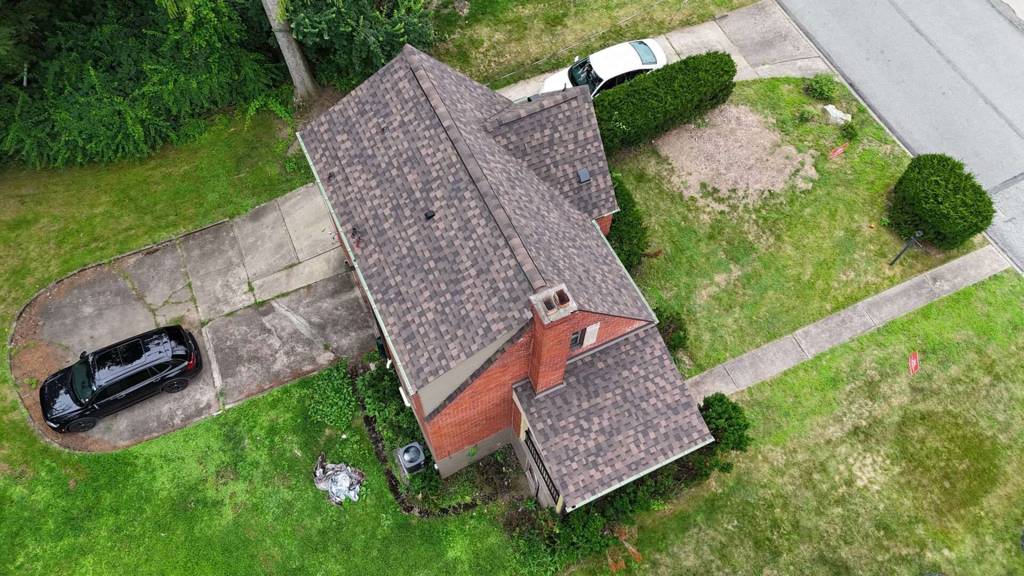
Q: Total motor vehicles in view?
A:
2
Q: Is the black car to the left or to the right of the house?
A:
to its left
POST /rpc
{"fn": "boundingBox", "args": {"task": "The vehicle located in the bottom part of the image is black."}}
[38,322,204,432]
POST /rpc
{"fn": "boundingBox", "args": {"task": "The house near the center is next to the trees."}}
[296,45,715,526]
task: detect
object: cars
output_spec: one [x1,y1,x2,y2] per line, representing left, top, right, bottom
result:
[38,322,204,432]
[540,40,664,97]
